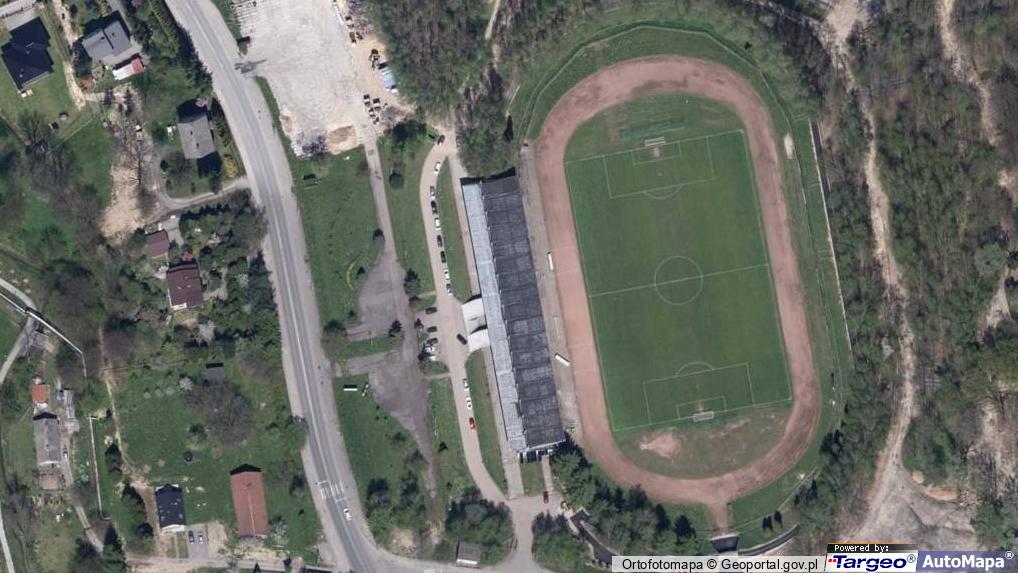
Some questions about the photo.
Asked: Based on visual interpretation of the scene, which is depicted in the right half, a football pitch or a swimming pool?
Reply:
football pitch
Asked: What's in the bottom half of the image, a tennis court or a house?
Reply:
house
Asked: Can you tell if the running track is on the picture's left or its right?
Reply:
right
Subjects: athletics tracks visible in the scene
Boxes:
[537,54,821,531]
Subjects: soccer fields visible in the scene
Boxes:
[565,129,791,433]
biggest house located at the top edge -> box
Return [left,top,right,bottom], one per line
[3,18,55,84]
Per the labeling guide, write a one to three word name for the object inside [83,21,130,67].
house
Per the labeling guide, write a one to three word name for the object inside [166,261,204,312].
house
